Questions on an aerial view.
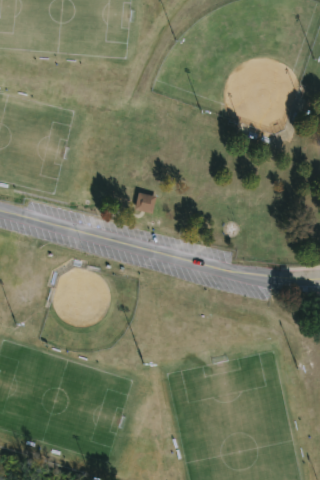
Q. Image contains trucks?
No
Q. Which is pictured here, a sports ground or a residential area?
sports ground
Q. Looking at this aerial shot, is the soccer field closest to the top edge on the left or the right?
left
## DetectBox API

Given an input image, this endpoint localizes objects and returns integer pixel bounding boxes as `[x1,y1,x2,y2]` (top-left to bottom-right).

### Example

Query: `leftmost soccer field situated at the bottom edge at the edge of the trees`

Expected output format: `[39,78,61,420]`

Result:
[0,339,133,464]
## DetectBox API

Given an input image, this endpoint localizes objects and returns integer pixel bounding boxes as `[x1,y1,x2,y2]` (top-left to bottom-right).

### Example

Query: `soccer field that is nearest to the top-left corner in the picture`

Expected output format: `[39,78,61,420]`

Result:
[0,0,132,60]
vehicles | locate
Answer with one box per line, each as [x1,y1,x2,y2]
[151,233,157,244]
[192,259,202,264]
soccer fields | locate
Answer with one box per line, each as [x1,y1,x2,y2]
[166,350,302,480]
[0,339,133,464]
[0,92,74,194]
[0,0,132,60]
